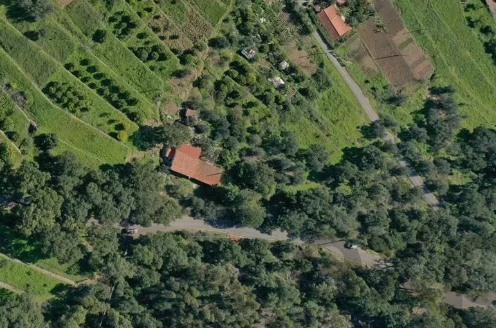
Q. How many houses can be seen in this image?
2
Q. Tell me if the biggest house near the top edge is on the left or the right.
right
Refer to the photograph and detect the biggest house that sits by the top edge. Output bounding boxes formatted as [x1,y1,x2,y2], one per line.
[314,5,351,40]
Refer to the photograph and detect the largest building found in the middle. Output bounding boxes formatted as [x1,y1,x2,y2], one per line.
[170,143,223,186]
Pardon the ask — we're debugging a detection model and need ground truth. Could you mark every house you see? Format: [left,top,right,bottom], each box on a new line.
[314,5,351,40]
[170,143,223,186]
